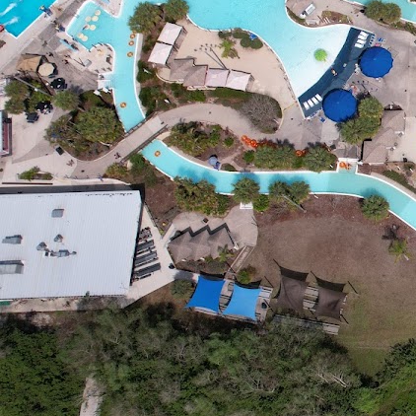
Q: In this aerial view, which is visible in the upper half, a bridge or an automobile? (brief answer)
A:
bridge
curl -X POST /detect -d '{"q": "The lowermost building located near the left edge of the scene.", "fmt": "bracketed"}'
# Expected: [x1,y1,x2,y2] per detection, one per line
[0,191,143,302]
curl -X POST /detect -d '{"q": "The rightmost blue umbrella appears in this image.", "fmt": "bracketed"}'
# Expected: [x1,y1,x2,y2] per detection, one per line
[359,47,393,79]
